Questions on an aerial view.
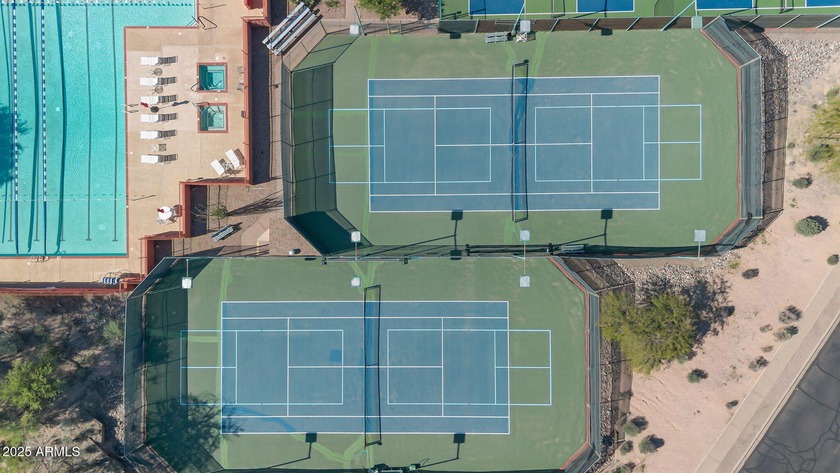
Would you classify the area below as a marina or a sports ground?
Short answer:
sports ground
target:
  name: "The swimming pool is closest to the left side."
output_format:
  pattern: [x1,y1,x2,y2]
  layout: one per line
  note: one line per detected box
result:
[0,0,199,265]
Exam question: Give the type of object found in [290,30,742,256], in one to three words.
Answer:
tennis court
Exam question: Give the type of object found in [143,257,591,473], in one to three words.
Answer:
tennis court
